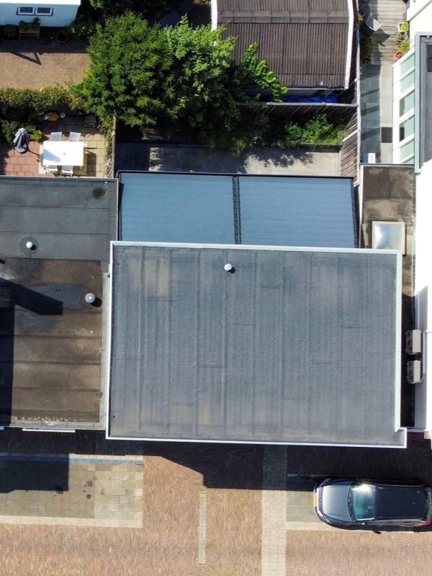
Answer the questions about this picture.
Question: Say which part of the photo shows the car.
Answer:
bottom right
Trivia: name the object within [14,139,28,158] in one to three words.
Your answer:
umbrella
